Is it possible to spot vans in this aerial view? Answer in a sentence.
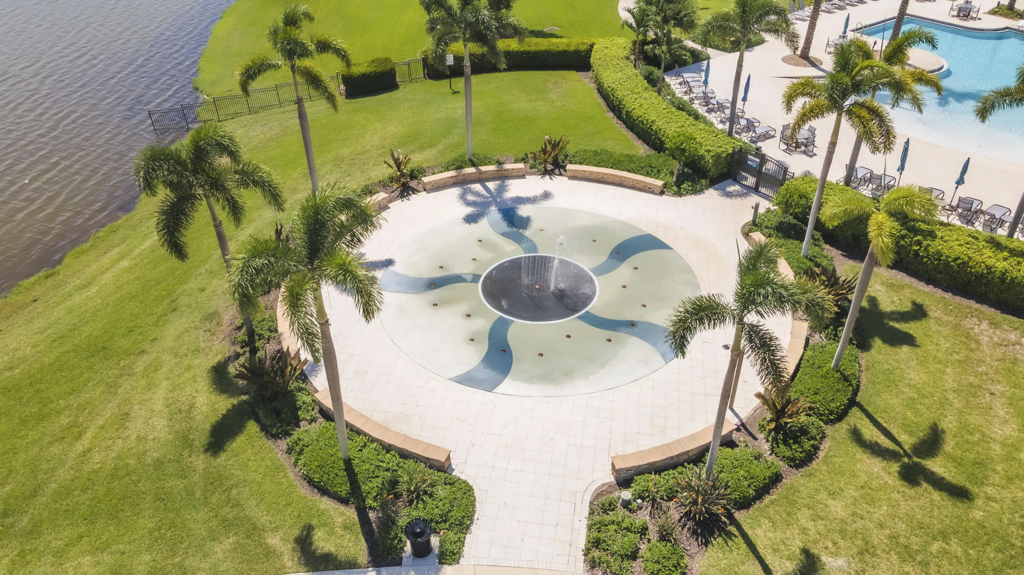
No, the frame has no van in it.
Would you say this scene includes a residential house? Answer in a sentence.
No, the scene contains no residential house.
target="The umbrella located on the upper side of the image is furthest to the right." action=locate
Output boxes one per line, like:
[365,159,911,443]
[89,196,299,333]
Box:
[953,154,970,199]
